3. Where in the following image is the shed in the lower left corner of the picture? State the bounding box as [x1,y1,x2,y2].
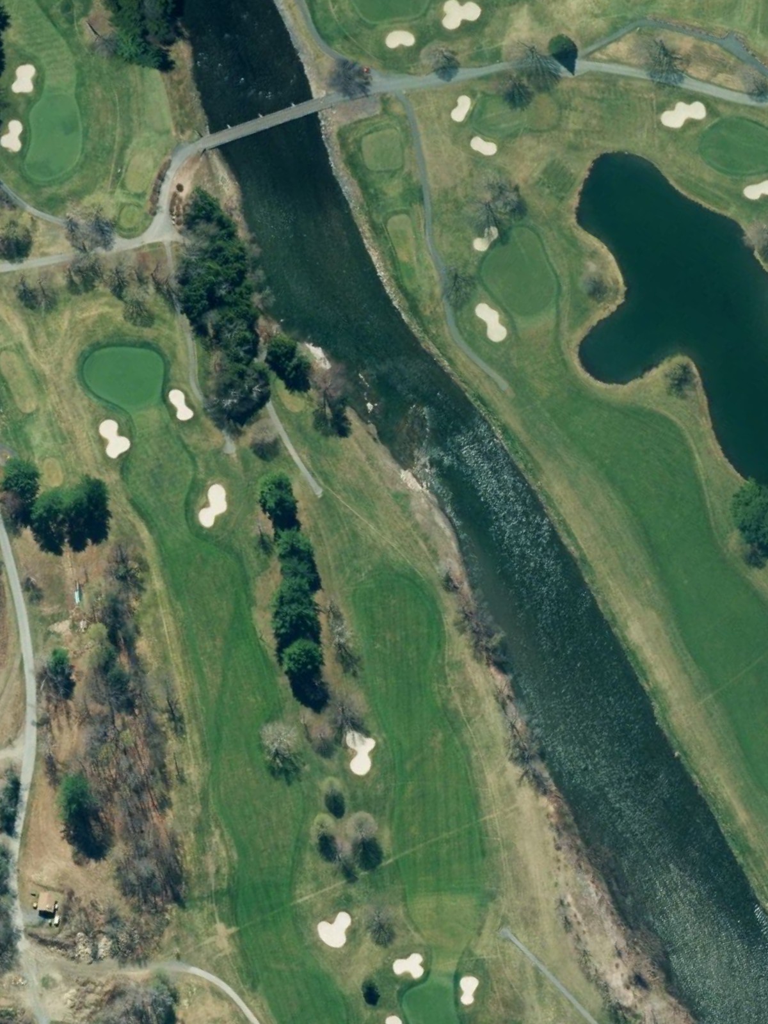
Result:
[36,892,55,913]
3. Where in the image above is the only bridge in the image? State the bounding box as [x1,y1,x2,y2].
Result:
[194,86,347,153]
